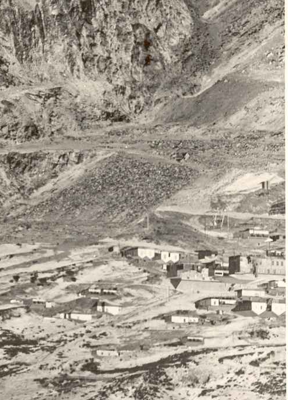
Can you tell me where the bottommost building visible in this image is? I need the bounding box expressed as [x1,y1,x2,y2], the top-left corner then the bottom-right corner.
[91,348,120,364]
